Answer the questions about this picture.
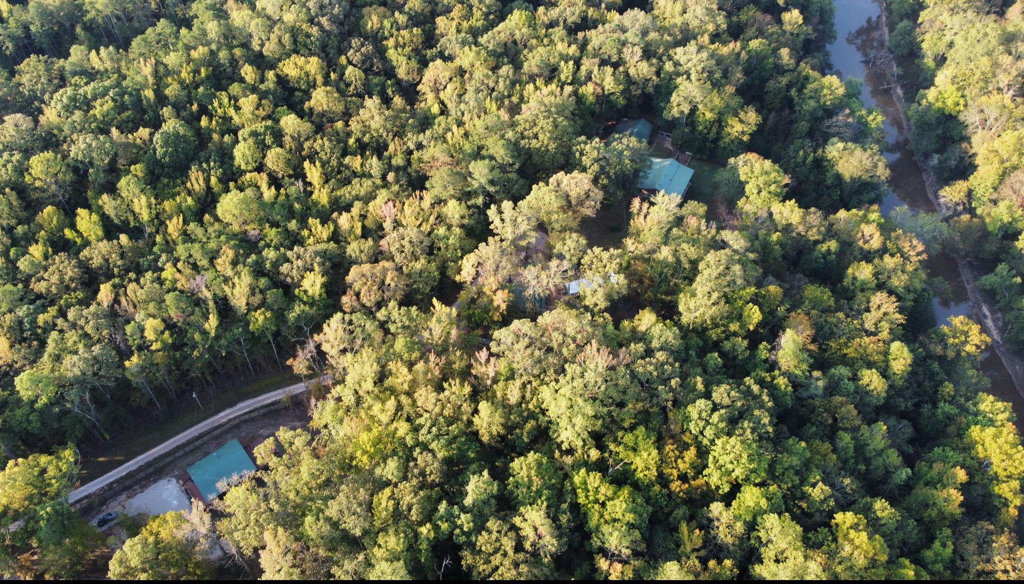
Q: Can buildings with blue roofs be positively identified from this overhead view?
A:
Yes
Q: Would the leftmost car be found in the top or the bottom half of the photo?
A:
bottom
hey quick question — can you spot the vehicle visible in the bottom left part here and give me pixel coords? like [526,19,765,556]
[91,508,119,529]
